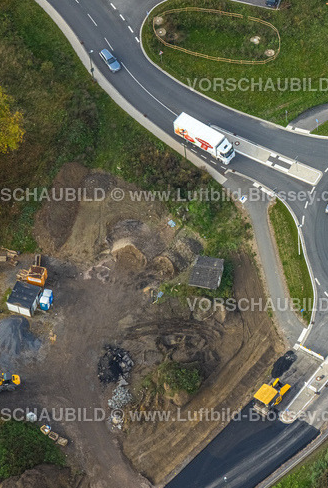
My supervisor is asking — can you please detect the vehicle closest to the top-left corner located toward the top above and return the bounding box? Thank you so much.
[99,48,120,72]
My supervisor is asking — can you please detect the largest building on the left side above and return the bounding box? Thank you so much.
[7,280,44,322]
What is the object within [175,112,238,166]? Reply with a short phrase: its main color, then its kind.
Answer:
white truck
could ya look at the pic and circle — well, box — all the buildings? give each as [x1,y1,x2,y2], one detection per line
[188,256,224,292]
[7,280,44,322]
